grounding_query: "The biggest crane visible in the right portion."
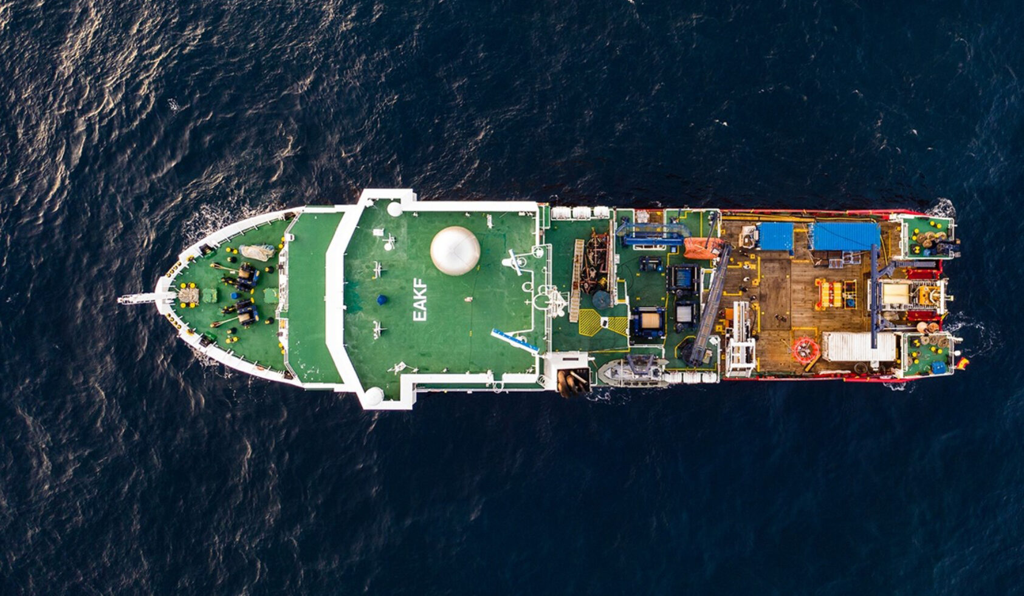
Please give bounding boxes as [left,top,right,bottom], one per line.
[674,240,736,371]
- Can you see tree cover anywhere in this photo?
No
